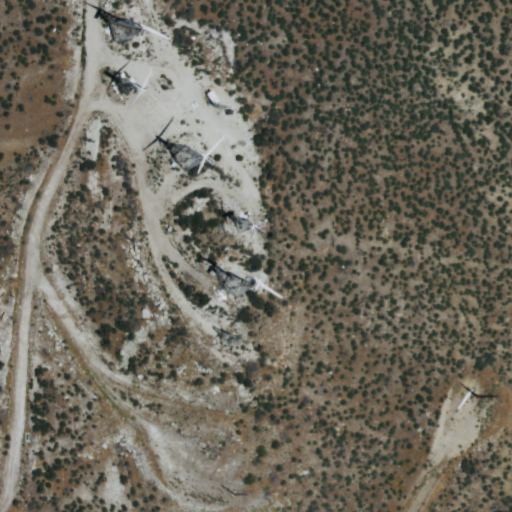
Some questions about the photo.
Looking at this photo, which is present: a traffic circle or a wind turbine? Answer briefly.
wind turbine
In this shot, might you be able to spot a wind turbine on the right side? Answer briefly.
Yes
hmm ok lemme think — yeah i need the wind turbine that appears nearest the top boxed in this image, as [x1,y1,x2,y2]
[109,20,164,44]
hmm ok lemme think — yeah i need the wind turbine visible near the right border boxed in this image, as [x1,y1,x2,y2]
[460,382,498,410]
